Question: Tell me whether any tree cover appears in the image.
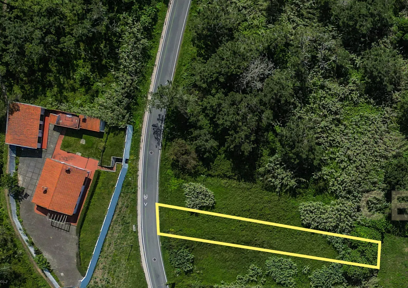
Yes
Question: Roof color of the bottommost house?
orange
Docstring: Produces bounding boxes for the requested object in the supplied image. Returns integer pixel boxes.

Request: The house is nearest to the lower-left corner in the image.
[32,157,96,215]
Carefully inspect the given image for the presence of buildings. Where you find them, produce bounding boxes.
[4,101,54,151]
[32,157,96,215]
[49,113,109,133]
